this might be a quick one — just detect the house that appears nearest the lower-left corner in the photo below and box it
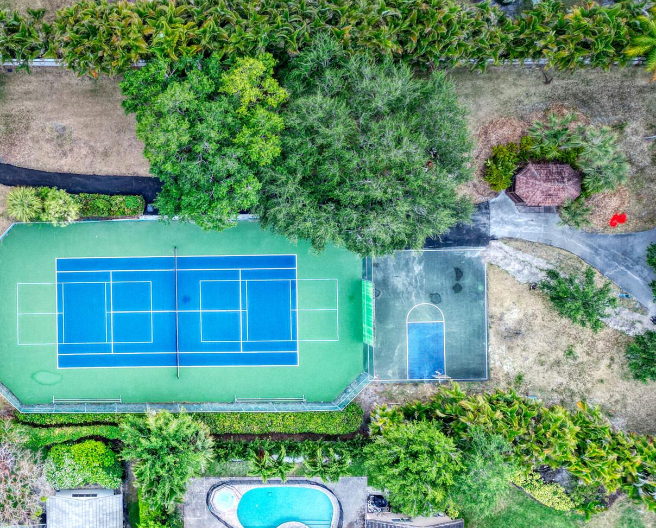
[47,490,124,528]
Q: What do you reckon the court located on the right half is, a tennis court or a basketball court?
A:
basketball court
